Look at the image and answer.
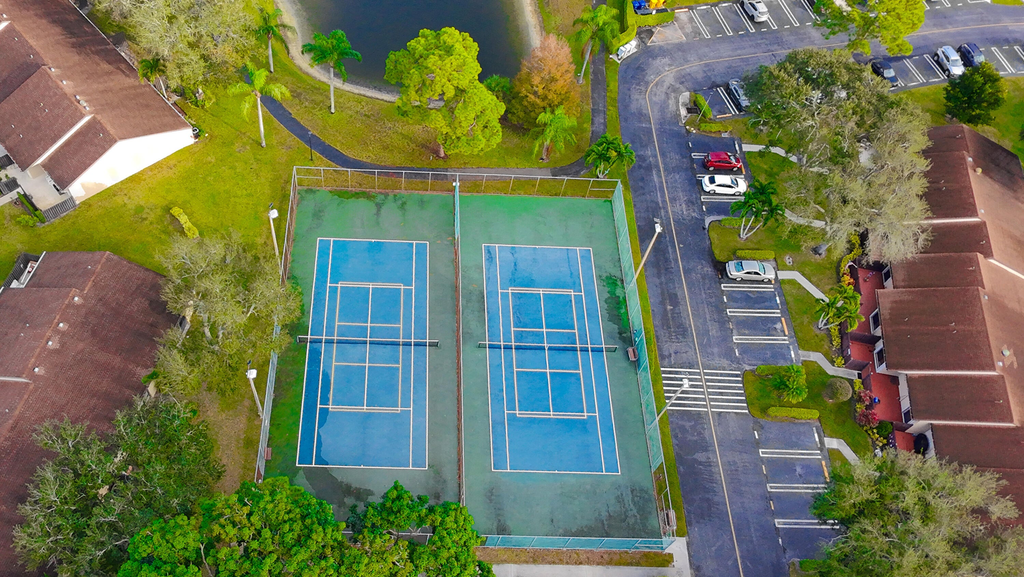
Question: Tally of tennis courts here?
2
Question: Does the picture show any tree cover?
Yes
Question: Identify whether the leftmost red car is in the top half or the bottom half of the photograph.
top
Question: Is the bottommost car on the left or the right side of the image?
right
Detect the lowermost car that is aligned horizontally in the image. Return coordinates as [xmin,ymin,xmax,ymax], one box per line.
[728,259,777,281]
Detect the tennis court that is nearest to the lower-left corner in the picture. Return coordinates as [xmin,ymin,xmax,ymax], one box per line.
[265,190,460,543]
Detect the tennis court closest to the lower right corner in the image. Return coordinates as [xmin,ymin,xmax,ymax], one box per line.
[460,198,660,541]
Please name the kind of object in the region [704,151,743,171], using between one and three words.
car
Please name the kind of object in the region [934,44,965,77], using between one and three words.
car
